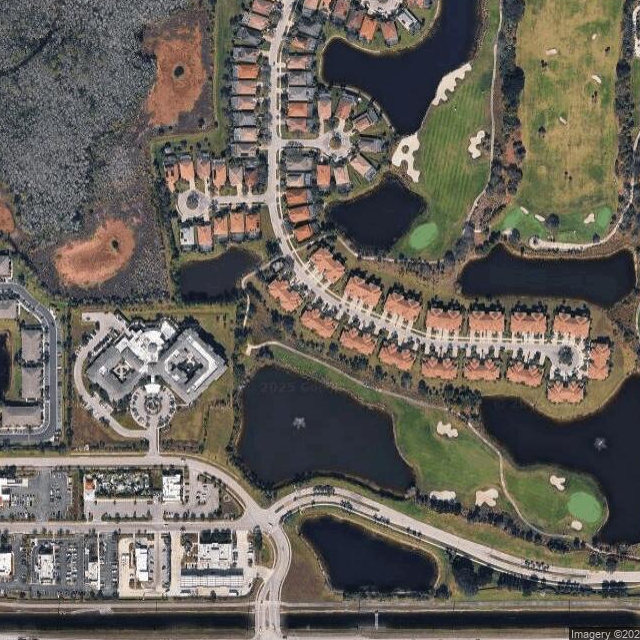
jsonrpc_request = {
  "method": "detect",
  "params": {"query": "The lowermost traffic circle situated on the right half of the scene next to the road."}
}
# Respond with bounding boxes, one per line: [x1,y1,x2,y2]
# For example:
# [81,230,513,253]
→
[548,334,583,369]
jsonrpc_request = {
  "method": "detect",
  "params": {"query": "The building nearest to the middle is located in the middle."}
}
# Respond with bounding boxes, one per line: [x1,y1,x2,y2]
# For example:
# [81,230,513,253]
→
[301,307,338,338]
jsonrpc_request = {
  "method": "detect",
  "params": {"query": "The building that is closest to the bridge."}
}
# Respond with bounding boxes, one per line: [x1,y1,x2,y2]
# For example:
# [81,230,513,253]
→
[198,544,233,569]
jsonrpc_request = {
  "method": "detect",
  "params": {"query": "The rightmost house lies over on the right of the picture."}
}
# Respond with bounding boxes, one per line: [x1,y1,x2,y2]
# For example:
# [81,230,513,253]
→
[588,343,612,379]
